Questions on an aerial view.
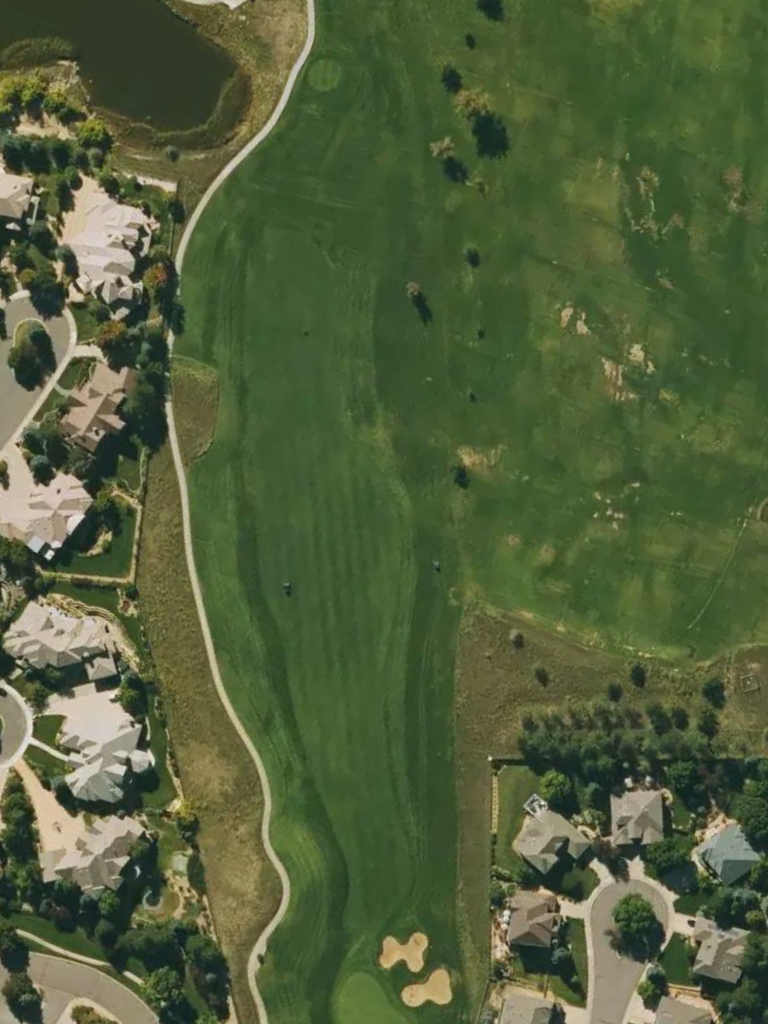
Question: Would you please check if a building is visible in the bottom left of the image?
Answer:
Yes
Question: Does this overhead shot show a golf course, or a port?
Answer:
golf course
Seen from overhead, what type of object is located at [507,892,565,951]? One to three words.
house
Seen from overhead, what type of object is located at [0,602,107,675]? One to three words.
house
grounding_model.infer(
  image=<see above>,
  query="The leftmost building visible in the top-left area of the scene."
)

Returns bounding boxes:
[0,174,31,216]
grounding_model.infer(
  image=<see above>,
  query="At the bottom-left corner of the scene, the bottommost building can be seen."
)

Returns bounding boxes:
[37,811,151,898]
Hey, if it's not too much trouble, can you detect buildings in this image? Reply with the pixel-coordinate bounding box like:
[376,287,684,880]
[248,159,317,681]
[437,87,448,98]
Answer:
[507,892,565,951]
[517,807,598,876]
[0,174,31,216]
[72,198,148,322]
[610,792,665,846]
[698,824,763,886]
[0,465,94,546]
[61,709,154,810]
[37,811,151,898]
[504,999,562,1024]
[692,915,750,990]
[0,602,107,675]
[53,360,139,454]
